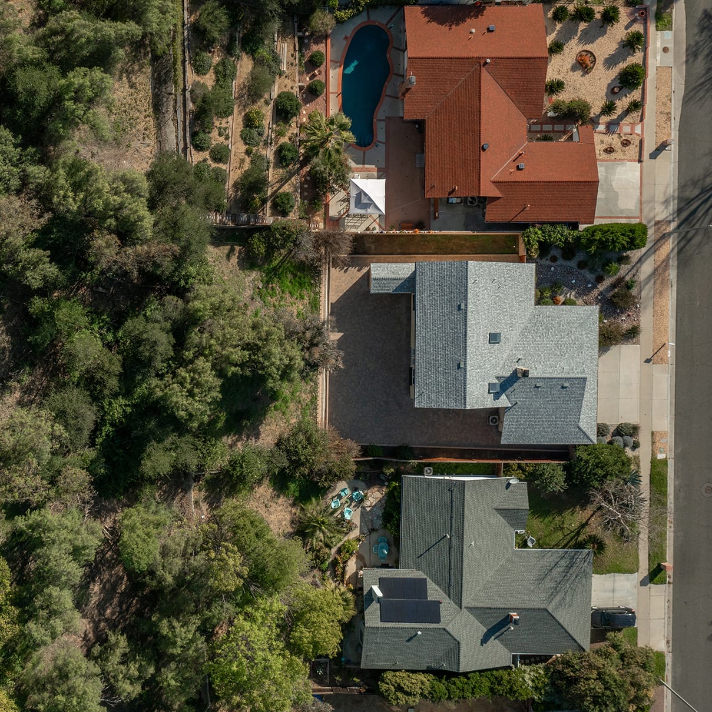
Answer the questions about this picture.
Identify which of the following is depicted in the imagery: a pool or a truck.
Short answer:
pool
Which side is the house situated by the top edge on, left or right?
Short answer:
right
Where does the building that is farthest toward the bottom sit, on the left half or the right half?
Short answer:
right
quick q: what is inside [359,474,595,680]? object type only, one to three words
building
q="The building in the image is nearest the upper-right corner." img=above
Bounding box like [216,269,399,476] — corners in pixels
[400,3,603,223]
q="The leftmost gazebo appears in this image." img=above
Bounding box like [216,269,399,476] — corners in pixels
[345,179,385,217]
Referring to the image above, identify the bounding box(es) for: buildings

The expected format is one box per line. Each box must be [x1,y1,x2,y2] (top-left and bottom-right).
[359,474,595,680]
[400,3,603,223]
[366,260,599,445]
